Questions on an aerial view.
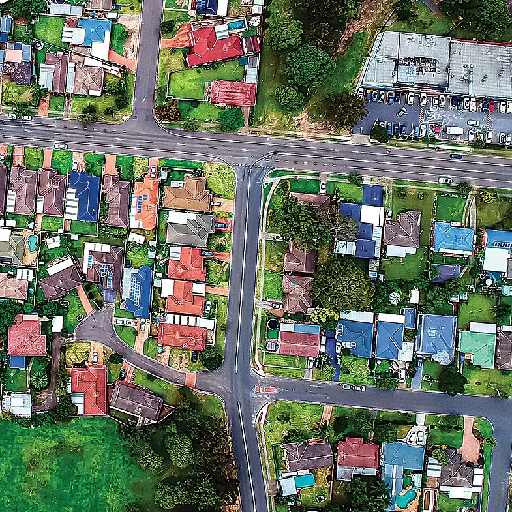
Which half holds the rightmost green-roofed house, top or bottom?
bottom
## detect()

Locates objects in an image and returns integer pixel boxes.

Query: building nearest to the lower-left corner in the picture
[1,391,31,418]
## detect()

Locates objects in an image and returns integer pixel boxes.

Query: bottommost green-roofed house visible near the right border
[456,322,497,366]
